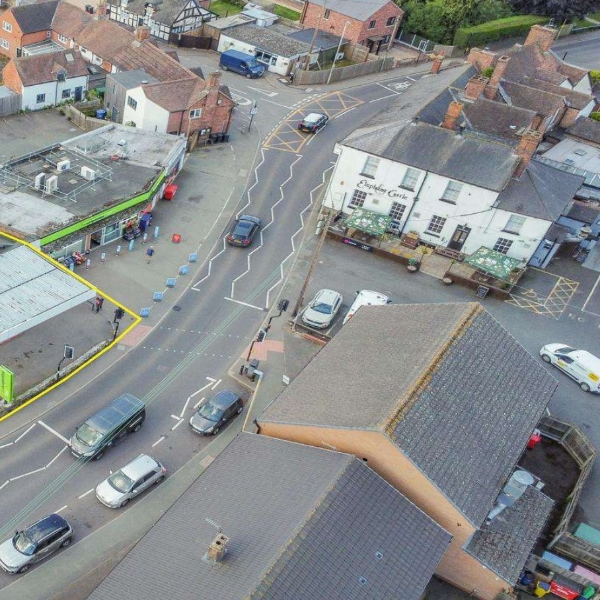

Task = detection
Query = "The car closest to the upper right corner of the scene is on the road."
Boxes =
[299,109,330,132]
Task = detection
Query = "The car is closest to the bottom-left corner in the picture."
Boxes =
[0,503,81,574]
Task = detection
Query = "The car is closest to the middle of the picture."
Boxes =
[306,275,351,326]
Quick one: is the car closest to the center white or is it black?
white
